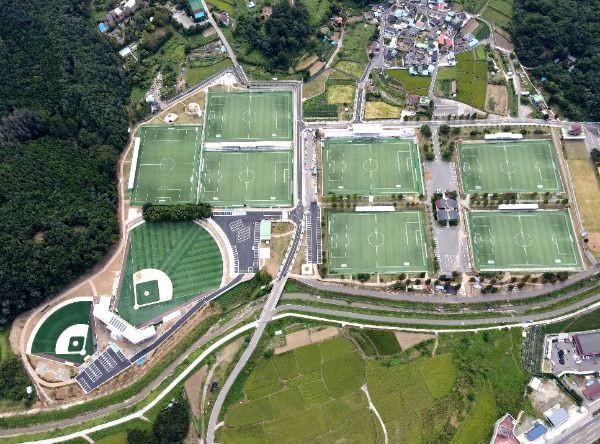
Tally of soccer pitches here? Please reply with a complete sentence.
The picture shows 7 soccer pitches.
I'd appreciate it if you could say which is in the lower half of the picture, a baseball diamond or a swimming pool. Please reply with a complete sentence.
Visible in the lower half of the picture is a baseball diamond.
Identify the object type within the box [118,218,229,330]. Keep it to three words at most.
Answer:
baseball field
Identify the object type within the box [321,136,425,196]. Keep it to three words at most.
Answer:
soccer field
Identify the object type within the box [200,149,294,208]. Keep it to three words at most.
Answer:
soccer field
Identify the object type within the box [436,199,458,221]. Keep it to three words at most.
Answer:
building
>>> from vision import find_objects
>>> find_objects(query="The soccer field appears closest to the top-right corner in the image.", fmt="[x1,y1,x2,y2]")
[458,139,564,194]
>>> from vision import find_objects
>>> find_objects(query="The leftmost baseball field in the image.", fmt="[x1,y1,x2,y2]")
[26,296,100,366]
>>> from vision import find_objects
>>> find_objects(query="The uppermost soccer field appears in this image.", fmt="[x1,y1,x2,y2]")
[204,89,294,142]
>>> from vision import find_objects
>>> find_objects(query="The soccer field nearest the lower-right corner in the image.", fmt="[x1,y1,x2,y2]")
[469,209,583,271]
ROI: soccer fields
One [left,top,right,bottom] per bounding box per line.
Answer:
[204,89,294,142]
[327,209,429,274]
[469,209,583,271]
[321,136,425,196]
[458,139,564,194]
[200,149,294,208]
[129,123,203,206]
